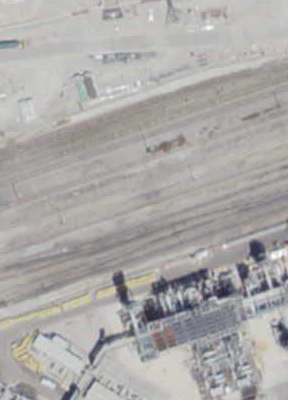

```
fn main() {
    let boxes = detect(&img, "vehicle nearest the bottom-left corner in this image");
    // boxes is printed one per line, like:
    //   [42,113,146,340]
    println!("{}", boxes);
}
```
[40,378,56,390]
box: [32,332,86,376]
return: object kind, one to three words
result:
building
